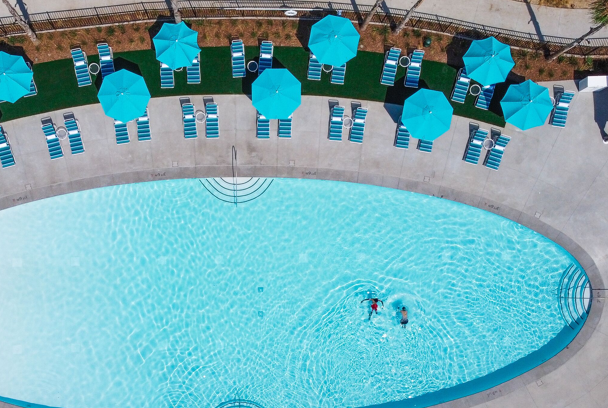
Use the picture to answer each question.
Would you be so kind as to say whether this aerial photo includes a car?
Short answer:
No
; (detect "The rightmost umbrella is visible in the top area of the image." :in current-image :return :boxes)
[501,79,553,130]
